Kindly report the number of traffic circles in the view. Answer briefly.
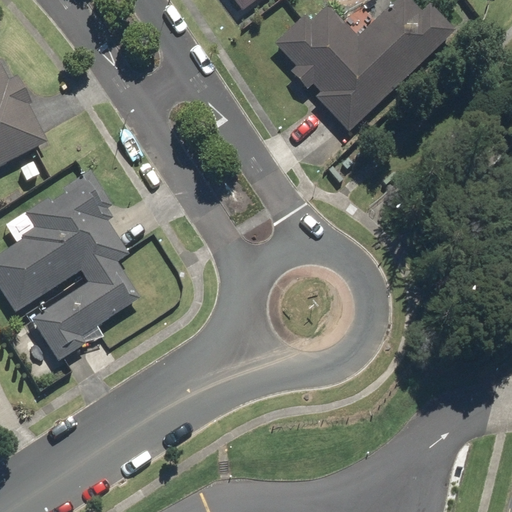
one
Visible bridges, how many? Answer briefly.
0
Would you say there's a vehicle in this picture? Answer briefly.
Yes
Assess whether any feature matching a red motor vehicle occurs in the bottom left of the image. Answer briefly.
Yes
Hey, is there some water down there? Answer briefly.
No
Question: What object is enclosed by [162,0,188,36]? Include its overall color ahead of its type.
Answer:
white car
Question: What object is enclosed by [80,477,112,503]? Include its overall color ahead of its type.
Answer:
red car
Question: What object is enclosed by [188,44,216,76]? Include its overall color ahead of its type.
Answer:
white car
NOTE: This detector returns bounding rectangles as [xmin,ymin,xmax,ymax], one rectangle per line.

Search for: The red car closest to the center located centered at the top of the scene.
[289,114,320,144]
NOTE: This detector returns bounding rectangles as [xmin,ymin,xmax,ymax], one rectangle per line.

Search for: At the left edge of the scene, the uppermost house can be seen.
[0,62,48,166]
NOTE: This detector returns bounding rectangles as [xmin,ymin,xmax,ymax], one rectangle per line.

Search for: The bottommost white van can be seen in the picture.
[118,449,153,477]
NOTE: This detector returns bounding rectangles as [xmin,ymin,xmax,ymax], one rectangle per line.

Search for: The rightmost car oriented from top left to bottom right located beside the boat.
[138,160,163,190]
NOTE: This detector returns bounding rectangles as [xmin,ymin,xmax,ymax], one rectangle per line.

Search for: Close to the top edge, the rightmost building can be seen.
[276,0,456,132]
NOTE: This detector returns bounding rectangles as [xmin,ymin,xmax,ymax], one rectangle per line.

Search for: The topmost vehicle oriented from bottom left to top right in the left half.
[119,222,148,247]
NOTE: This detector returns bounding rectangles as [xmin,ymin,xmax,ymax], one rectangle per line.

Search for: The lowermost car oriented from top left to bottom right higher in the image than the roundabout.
[298,212,326,240]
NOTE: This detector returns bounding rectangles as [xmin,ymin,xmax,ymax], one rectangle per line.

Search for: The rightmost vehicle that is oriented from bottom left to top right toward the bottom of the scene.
[160,420,194,447]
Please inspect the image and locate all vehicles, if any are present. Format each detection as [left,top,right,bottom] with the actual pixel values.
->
[289,114,320,144]
[118,449,153,477]
[162,0,188,36]
[298,212,326,240]
[119,222,148,247]
[188,44,216,76]
[80,477,112,503]
[46,415,78,442]
[160,420,194,447]
[138,160,163,190]
[46,498,76,512]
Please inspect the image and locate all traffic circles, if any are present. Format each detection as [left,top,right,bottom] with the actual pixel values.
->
[268,265,354,351]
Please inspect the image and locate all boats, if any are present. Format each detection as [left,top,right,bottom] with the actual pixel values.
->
[122,128,144,164]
